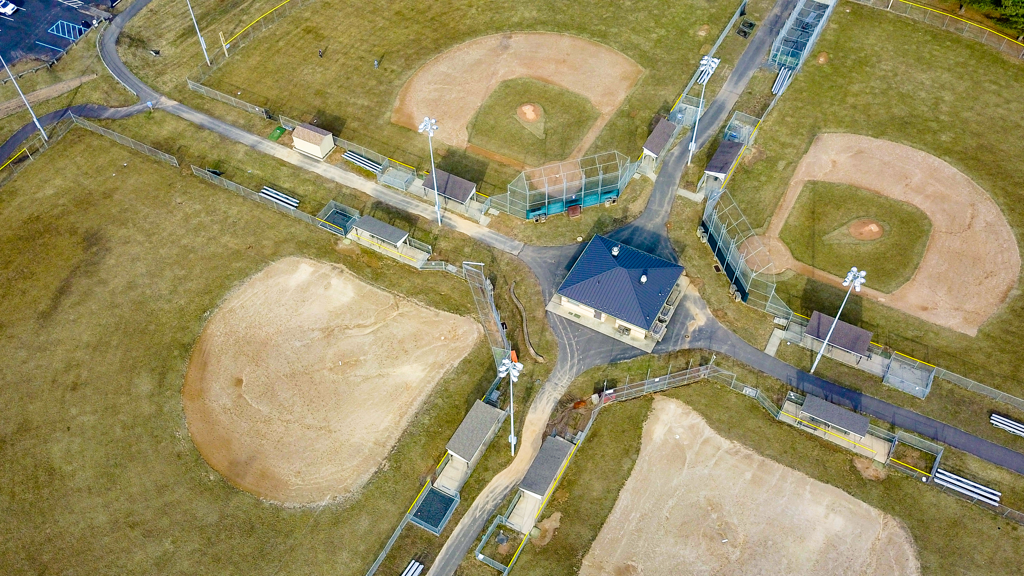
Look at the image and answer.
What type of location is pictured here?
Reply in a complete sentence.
The picture captures a sports ground.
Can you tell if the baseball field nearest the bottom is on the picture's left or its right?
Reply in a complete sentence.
You can find the baseball field nearest the bottom on the right side of the picture.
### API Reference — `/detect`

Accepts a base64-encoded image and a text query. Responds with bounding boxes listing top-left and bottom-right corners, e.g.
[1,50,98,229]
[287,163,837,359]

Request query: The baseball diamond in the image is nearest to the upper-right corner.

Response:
[701,1,1024,411]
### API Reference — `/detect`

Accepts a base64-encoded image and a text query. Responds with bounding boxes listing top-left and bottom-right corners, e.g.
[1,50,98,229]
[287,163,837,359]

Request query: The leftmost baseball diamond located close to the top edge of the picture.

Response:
[192,0,747,220]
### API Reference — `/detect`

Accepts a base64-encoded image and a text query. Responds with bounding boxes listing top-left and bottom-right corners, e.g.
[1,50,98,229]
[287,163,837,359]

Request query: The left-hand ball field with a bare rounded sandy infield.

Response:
[0,122,510,576]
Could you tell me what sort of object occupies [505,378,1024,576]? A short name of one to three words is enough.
baseball field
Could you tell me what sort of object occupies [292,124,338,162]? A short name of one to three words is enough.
shed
